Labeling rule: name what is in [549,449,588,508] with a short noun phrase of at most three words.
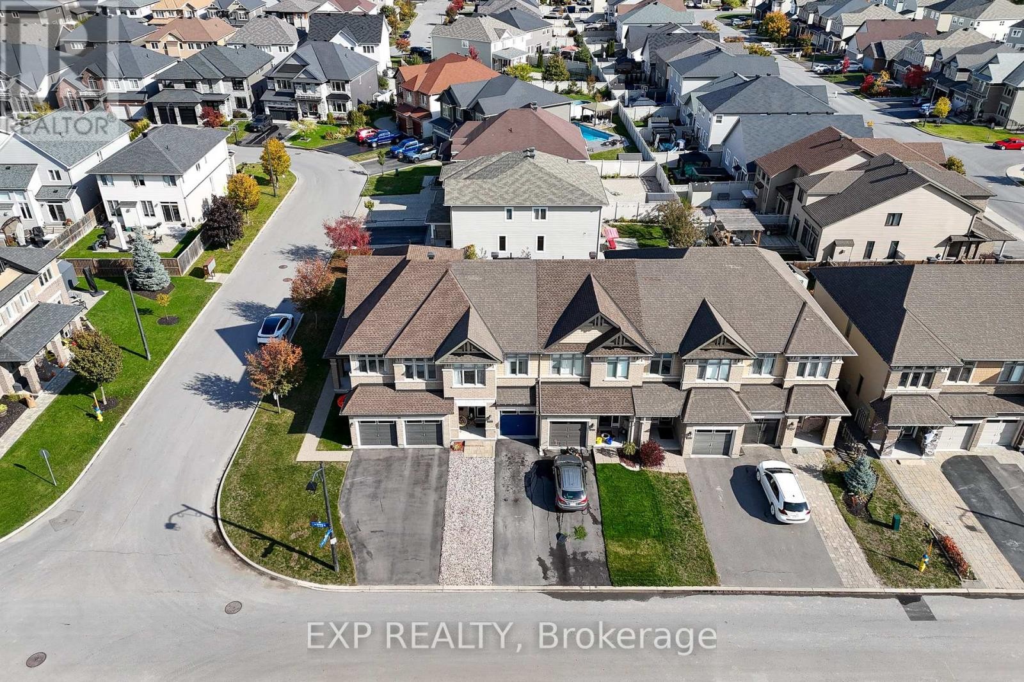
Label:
car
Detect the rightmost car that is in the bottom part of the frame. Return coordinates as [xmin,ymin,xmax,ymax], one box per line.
[752,458,807,518]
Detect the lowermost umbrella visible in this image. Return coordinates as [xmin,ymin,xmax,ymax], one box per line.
[86,264,104,295]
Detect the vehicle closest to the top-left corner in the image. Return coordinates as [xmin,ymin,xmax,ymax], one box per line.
[251,110,277,128]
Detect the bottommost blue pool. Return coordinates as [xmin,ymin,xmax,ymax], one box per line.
[577,121,615,142]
